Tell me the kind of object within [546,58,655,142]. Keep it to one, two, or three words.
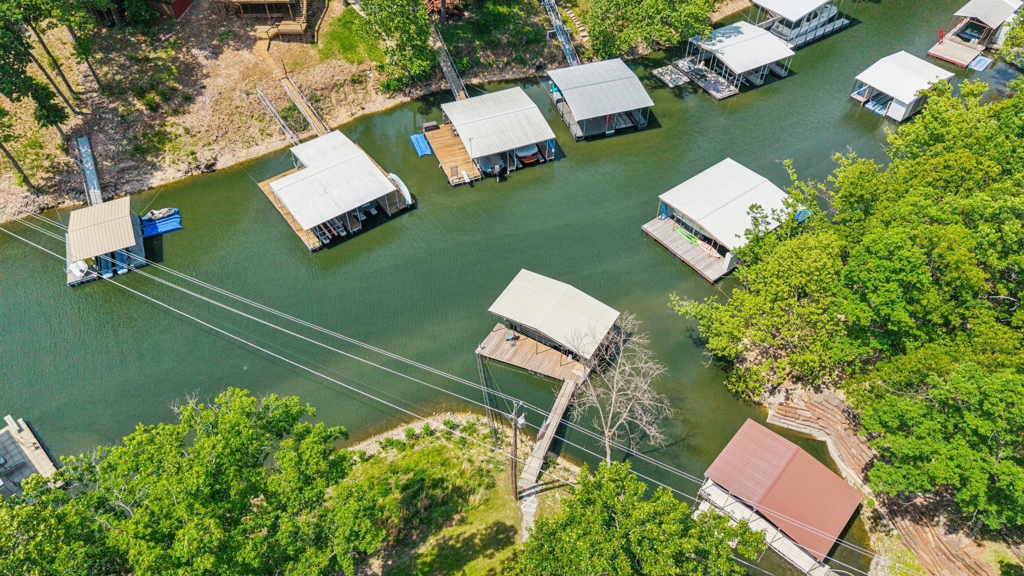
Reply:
pier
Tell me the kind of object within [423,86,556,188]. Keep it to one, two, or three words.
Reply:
pier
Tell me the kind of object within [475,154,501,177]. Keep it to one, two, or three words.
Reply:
boat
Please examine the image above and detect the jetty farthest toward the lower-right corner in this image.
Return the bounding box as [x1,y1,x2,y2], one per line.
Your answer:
[697,418,864,576]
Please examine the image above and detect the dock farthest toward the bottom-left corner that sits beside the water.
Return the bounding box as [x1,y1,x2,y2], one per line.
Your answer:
[0,413,69,516]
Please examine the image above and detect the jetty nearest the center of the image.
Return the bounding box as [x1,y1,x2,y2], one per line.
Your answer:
[475,269,620,399]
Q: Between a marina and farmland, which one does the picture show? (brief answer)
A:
marina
